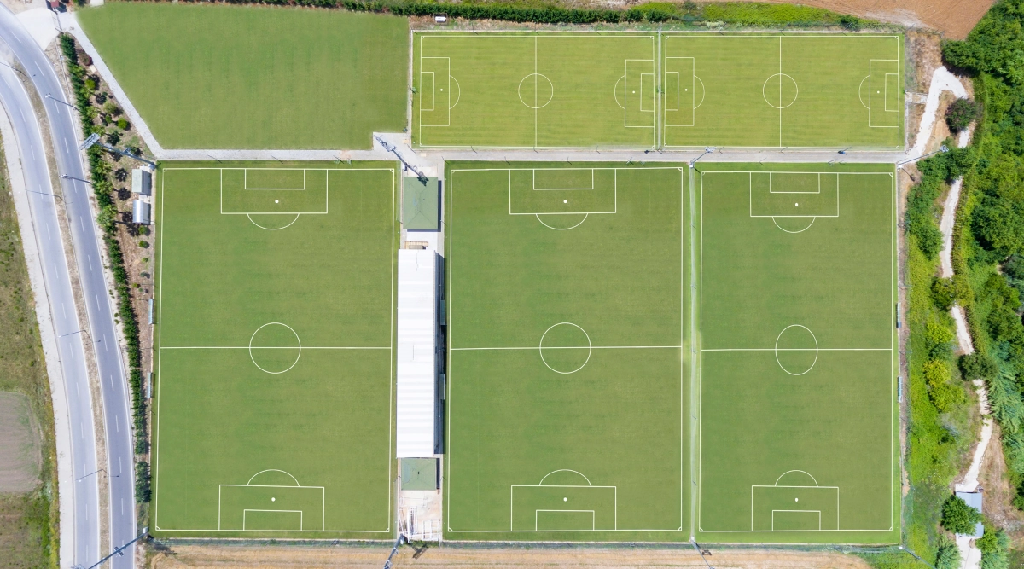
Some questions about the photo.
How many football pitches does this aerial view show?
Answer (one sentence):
The count of football pitches comes to 5.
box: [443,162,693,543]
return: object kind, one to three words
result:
soccer field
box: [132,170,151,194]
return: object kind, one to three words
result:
shed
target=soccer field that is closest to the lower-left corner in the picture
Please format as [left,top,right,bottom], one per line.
[149,161,401,540]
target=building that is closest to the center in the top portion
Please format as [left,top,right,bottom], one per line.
[404,176,438,230]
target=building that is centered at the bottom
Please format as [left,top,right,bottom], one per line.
[401,456,436,490]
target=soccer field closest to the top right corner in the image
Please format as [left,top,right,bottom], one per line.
[661,32,905,150]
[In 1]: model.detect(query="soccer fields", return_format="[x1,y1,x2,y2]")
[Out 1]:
[149,161,401,540]
[443,162,693,543]
[693,163,902,544]
[661,32,905,150]
[413,32,658,148]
